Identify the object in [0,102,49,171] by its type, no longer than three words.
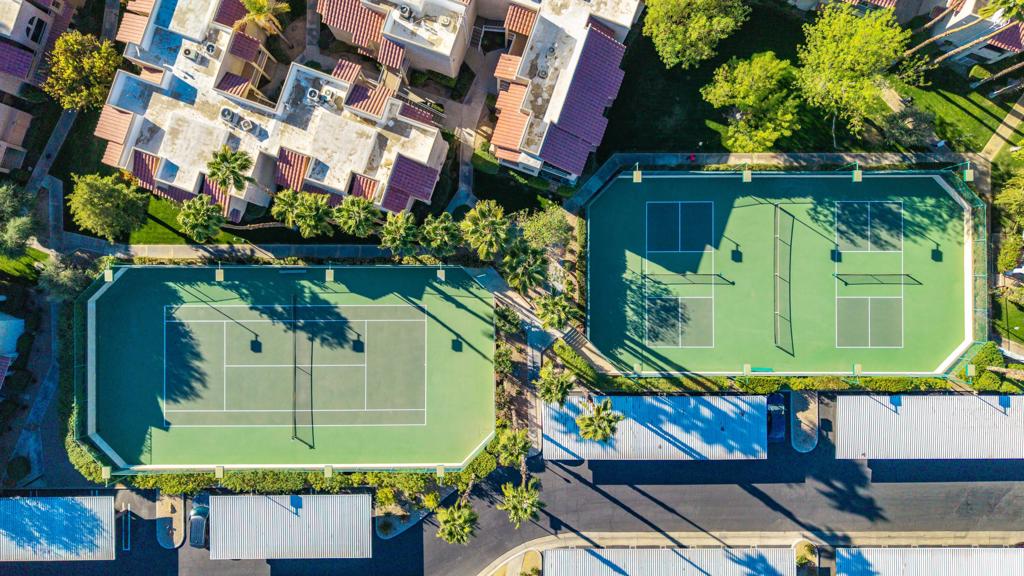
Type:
building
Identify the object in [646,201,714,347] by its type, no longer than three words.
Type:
sports court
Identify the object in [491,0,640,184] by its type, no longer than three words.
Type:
building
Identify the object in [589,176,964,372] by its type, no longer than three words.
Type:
sports court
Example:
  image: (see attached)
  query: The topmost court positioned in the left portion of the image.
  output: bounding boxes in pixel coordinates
[96,267,494,464]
